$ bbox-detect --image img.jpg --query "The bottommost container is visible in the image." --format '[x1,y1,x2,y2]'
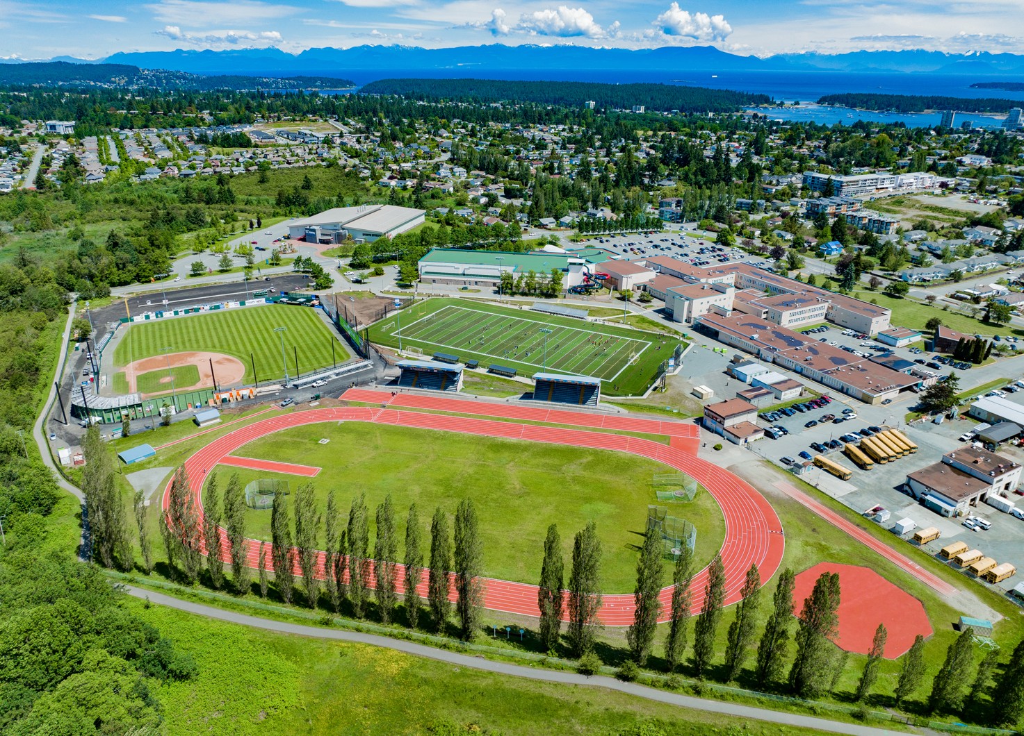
[952,612,1003,640]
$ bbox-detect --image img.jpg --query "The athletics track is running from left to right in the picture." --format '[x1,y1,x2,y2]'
[162,406,766,625]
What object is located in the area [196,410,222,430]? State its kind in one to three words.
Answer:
shed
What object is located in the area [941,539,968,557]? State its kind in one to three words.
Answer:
vehicle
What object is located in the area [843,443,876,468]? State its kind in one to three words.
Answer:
bus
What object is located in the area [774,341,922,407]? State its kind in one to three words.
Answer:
building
